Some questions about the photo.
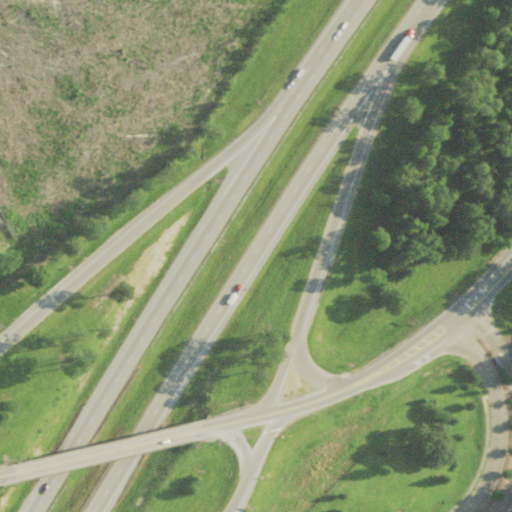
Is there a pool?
No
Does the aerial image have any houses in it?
No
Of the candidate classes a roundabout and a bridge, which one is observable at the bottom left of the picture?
bridge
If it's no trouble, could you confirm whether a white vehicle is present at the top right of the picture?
Yes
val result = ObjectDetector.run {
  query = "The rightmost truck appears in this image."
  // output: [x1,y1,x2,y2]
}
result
[390,30,418,64]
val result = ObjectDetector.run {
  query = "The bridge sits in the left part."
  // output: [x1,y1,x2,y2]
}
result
[14,419,210,484]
